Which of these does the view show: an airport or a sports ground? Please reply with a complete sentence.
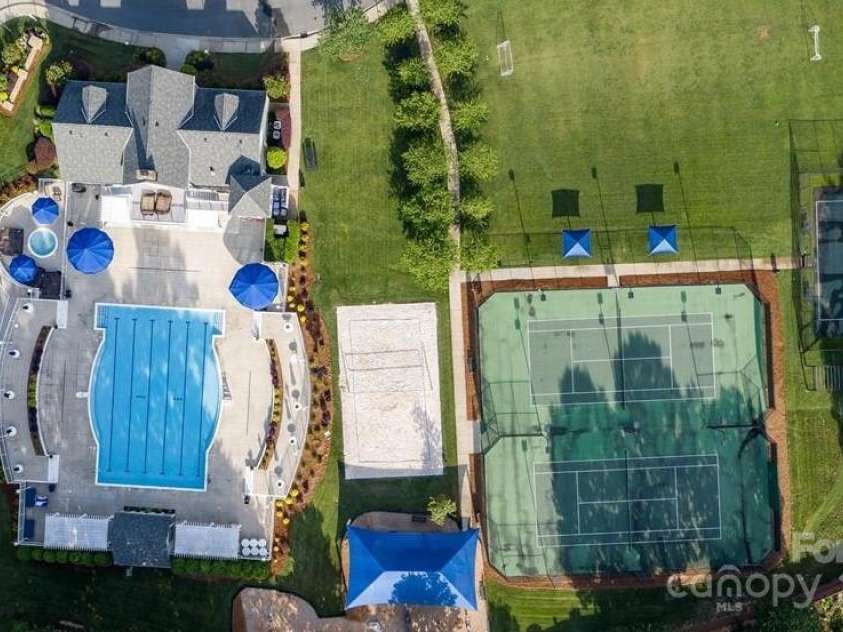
What you see here is a sports ground.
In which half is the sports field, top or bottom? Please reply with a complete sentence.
The sports field sits in the top half of the picture.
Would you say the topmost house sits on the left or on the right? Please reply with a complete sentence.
You can find the topmost house on the left side of the picture.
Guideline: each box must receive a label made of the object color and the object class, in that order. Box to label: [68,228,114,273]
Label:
blue umbrella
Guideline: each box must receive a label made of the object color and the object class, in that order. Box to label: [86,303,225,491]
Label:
blue swimming pool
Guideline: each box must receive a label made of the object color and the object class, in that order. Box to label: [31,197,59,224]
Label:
blue umbrella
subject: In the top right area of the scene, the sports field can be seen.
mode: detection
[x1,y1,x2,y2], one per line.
[431,0,843,268]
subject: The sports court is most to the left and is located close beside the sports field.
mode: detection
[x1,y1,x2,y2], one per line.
[337,302,443,479]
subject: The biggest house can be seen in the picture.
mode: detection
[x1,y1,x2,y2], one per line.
[49,65,276,218]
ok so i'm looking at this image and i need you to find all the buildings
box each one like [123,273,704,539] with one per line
[100,515,170,573]
[49,65,276,218]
